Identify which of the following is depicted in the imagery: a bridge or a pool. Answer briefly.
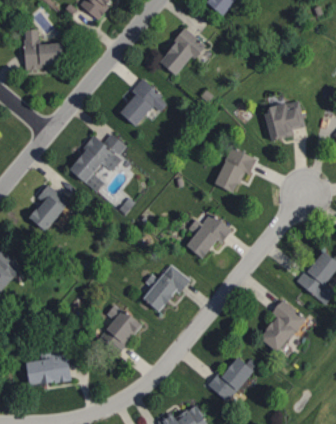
pool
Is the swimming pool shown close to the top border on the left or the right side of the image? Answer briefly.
left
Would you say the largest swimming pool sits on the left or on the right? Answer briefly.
left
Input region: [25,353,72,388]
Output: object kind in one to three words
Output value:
house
